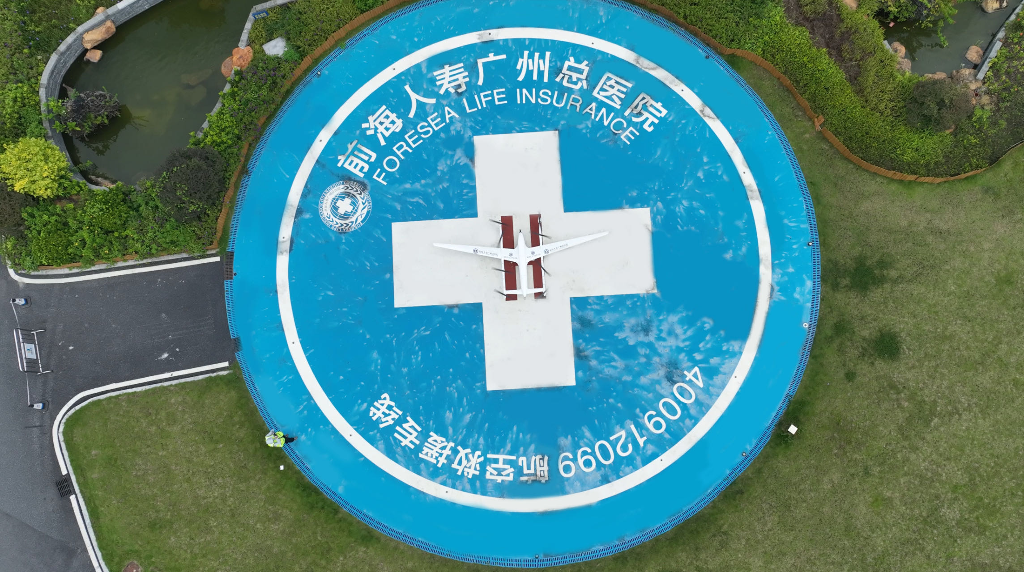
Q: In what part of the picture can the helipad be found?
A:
center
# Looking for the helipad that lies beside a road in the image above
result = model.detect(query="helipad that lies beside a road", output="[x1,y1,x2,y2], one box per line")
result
[236,0,812,558]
